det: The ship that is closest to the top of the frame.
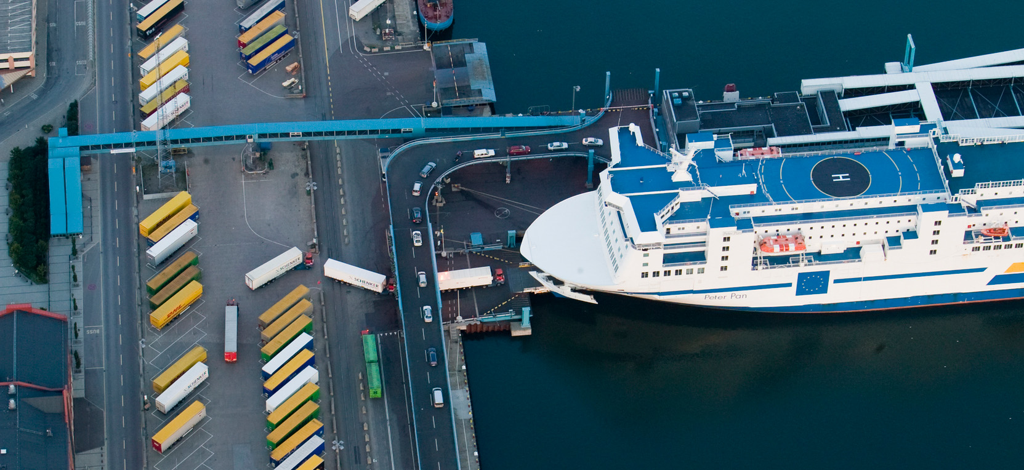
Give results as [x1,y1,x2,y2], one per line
[418,0,454,38]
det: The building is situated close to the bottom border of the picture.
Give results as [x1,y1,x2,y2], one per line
[0,299,75,470]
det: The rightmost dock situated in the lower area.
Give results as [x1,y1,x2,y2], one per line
[510,320,532,340]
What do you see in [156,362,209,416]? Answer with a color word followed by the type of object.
white trailer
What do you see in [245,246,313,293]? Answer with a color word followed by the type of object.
white truck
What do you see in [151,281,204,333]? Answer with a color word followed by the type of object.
yellow trailer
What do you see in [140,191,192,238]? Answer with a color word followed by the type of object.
yellow trailer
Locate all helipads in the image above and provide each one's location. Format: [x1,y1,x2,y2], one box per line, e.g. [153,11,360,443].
[810,156,872,197]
